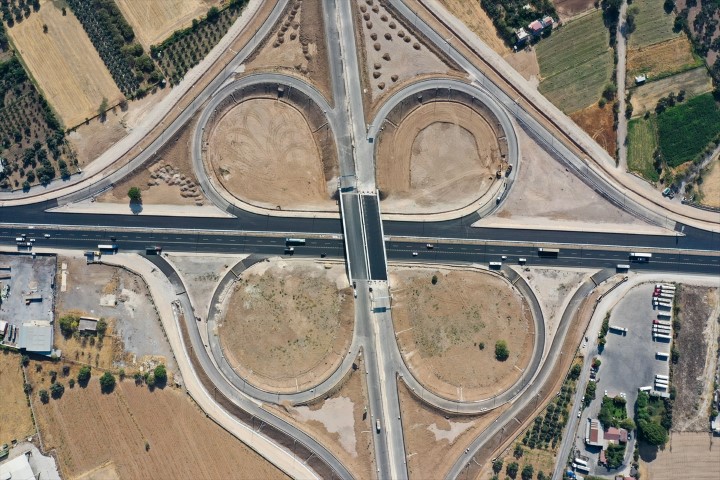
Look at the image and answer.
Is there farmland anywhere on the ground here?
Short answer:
Yes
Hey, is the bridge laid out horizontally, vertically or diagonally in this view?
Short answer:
vertically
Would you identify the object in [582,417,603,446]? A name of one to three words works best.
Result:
building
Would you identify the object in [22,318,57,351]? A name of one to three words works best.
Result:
building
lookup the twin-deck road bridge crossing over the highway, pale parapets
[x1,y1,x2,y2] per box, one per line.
[340,188,388,288]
